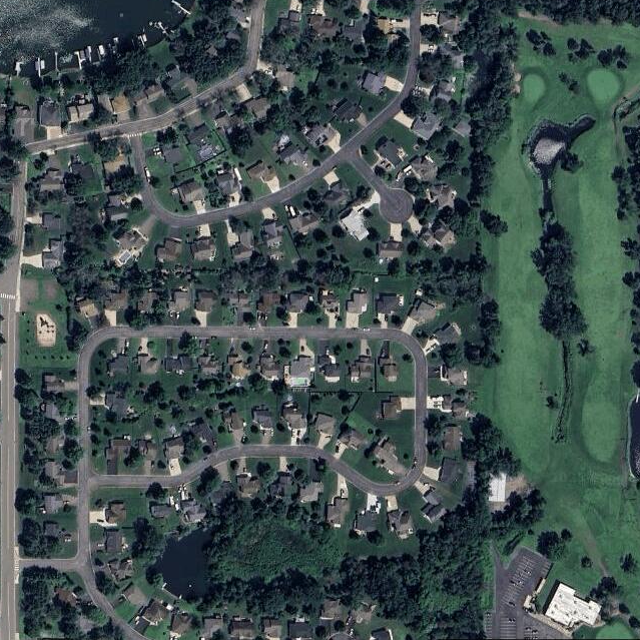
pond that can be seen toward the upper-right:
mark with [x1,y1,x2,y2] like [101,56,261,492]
[531,116,595,213]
